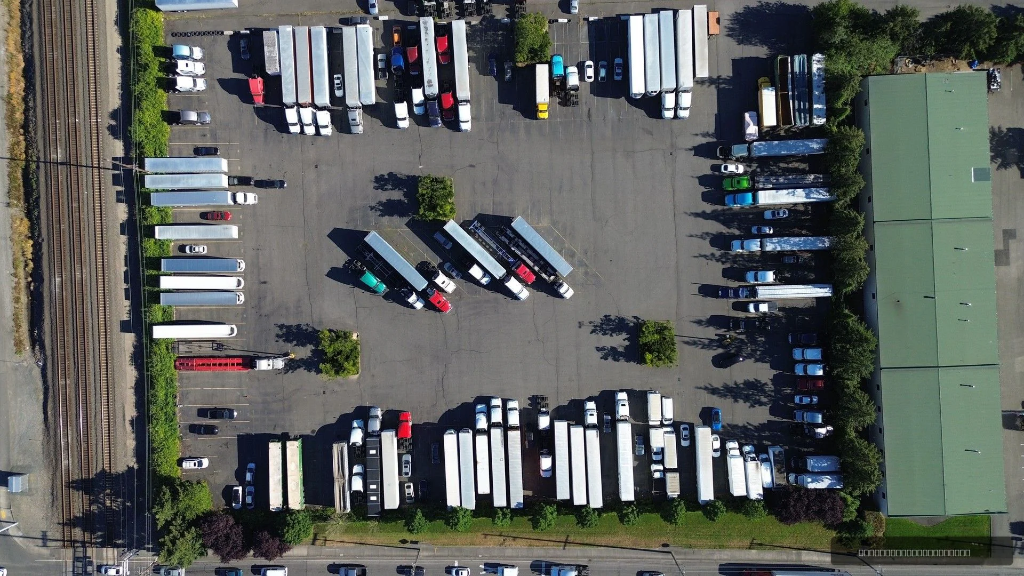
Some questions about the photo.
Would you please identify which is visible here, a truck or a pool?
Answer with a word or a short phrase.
truck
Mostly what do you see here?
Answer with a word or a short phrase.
paved ground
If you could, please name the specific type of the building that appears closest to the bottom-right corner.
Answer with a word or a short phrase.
warehouse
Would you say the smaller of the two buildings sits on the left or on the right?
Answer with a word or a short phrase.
left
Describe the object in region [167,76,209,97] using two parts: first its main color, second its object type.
white truck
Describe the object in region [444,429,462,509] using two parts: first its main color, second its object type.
white trailer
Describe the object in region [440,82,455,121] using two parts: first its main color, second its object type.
red vehicle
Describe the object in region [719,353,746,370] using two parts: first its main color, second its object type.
black car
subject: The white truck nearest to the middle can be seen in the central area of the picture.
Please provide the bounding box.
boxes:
[492,274,529,302]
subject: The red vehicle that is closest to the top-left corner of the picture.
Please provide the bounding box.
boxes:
[249,69,268,106]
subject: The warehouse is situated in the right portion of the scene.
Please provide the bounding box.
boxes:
[857,71,1009,518]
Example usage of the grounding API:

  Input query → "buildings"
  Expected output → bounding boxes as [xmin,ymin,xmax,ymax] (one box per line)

[857,71,1009,518]
[2,475,27,497]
